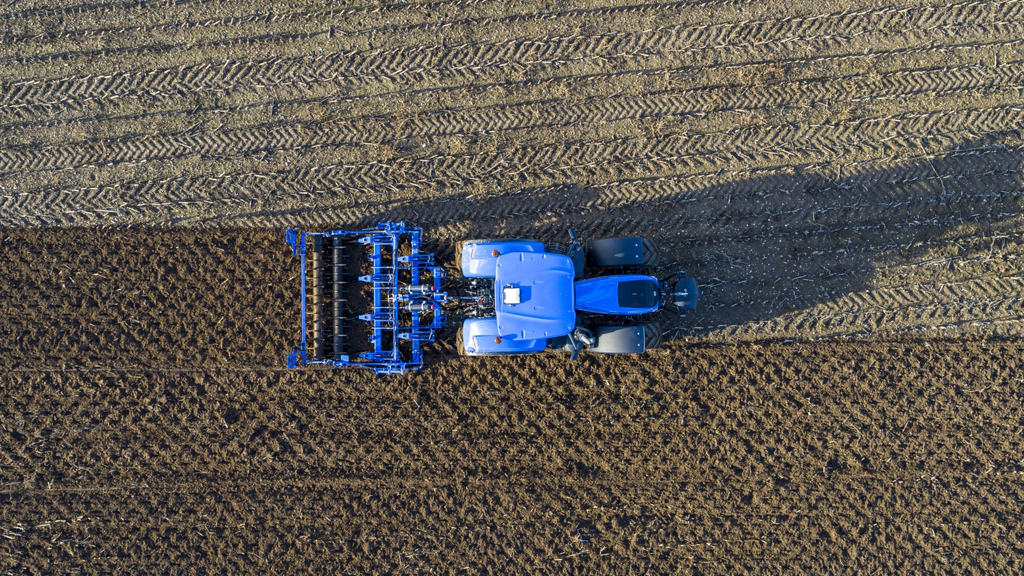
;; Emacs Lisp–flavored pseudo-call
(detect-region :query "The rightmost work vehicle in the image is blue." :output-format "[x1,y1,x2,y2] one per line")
[444,227,686,360]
